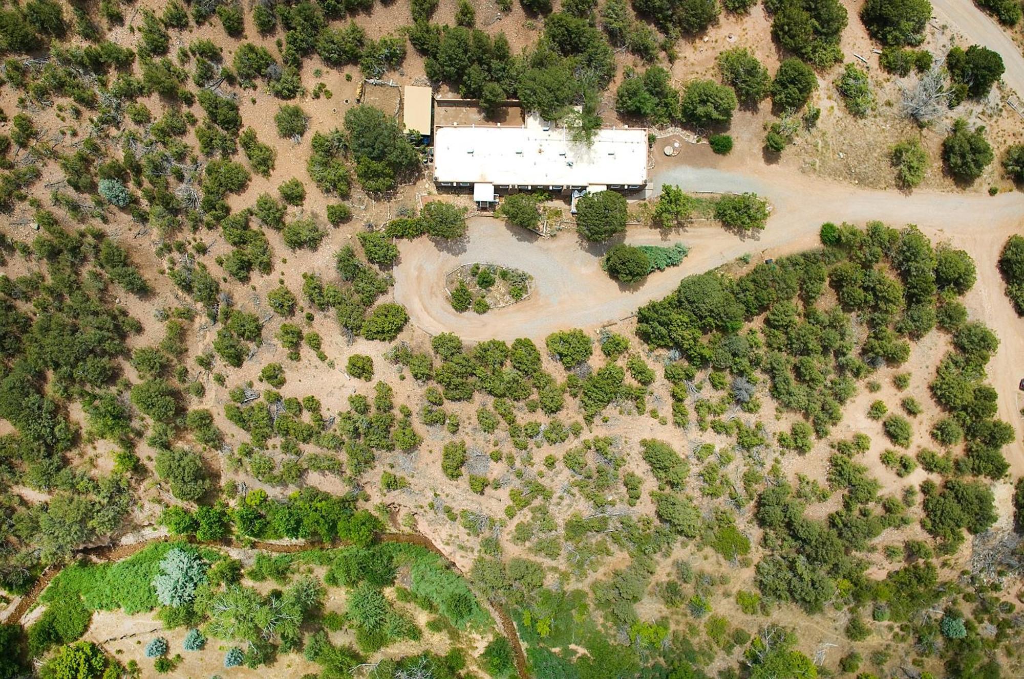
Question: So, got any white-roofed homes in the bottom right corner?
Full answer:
No, the scene shows no white-roofed home in the bottom right corner.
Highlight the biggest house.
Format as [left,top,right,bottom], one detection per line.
[434,122,648,211]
